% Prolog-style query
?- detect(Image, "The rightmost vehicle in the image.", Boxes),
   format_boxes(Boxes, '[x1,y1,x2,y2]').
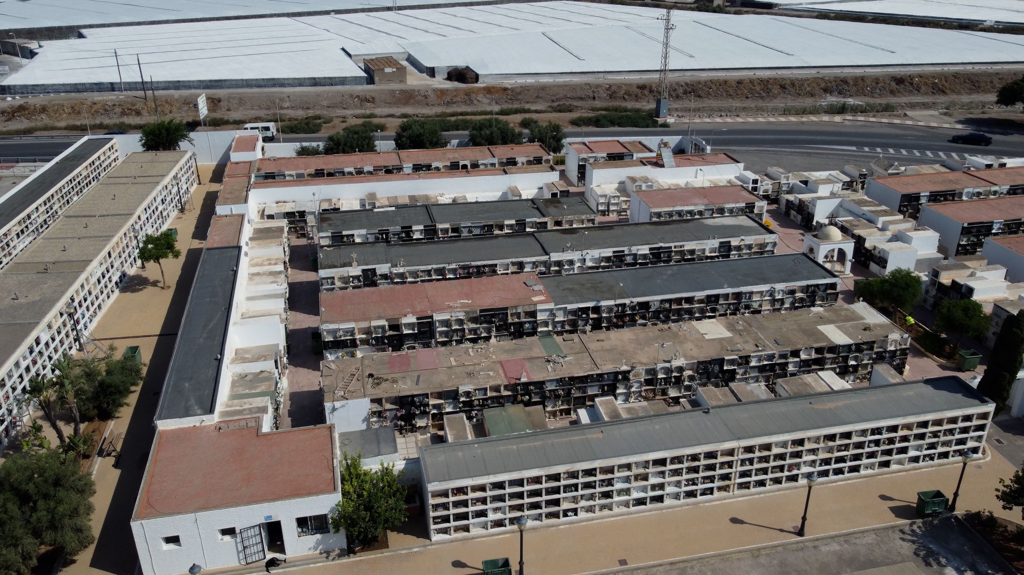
[951,130,987,145]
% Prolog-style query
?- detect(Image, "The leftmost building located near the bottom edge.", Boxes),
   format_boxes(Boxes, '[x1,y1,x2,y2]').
[129,417,347,575]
